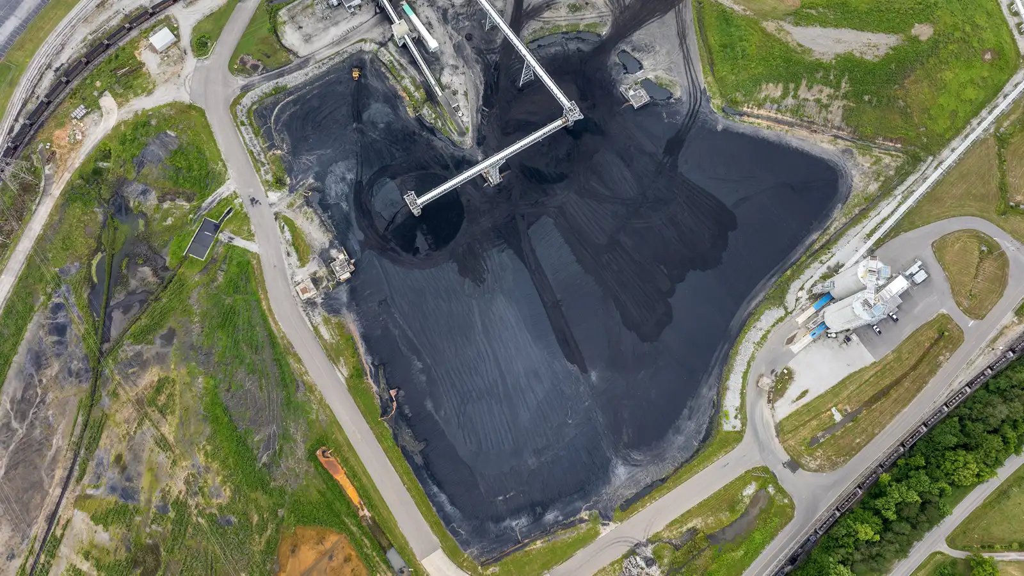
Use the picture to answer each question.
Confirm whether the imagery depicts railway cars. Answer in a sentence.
Yes, a railway car appears in the view.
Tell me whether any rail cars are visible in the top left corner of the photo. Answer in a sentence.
Yes, I can see a rail car in the top left corner of the photo.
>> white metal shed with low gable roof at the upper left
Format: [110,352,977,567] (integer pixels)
[149,26,178,55]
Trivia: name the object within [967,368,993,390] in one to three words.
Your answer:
rail car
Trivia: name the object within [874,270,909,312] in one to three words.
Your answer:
building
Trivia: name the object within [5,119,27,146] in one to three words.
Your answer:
rail car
